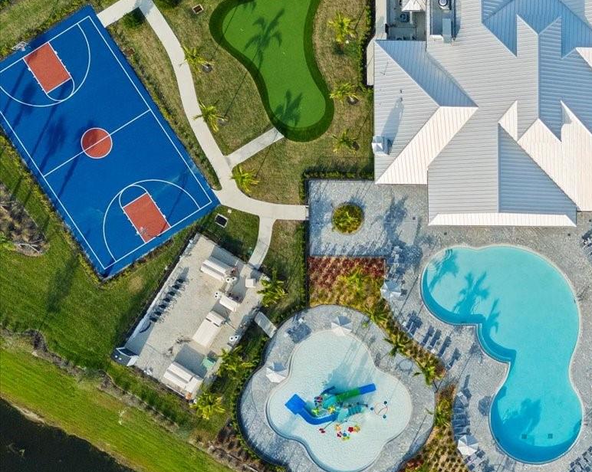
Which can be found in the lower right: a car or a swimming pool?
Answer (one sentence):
Visible in the lower right is a swimming pool.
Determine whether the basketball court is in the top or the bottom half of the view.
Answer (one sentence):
You can find the basketball court in the top half.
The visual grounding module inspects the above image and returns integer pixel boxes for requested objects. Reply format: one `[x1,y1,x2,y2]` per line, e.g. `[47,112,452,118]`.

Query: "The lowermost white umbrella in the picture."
[457,435,478,455]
